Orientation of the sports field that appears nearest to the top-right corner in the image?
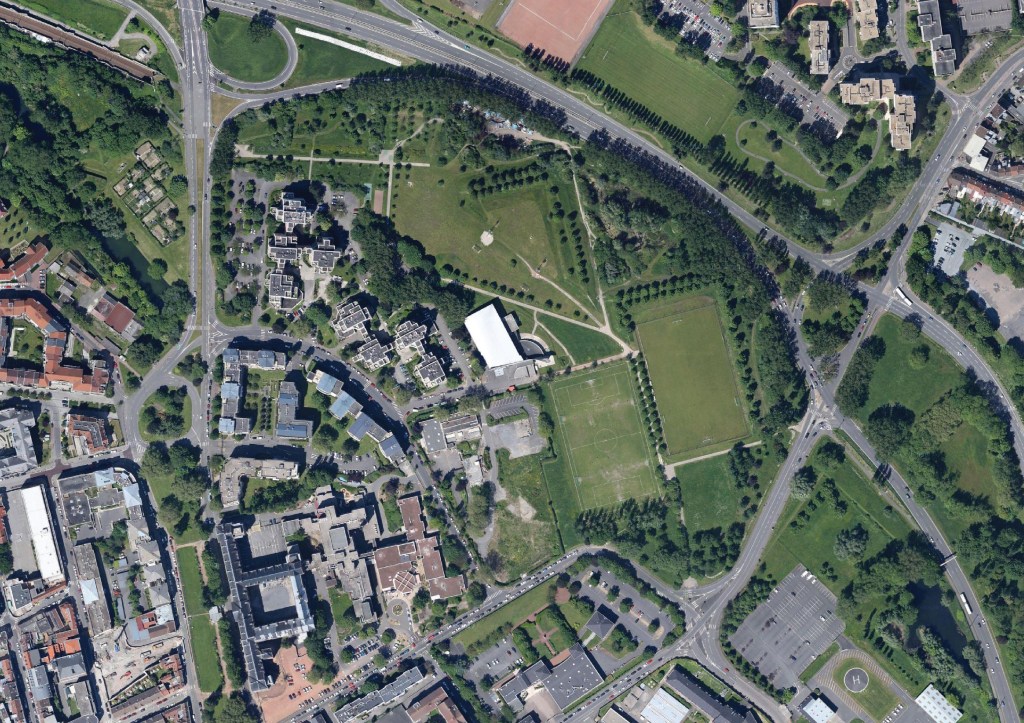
on a diagonal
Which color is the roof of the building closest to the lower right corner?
white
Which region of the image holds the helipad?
bottom right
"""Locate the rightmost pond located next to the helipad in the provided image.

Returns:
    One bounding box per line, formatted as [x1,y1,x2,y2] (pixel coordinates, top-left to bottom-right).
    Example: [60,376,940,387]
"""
[905,583,984,686]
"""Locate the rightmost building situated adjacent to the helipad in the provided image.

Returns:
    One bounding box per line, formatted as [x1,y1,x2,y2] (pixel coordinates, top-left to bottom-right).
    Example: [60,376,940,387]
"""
[915,684,963,723]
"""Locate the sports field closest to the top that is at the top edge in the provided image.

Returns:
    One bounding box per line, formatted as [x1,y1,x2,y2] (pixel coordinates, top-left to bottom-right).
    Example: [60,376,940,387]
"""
[497,0,612,65]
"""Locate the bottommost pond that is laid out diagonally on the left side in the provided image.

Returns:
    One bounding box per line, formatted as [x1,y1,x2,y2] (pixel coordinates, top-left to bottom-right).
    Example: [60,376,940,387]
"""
[100,234,173,306]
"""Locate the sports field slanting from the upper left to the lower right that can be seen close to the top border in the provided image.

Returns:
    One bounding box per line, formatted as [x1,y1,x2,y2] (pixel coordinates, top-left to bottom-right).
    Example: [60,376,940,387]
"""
[578,11,738,148]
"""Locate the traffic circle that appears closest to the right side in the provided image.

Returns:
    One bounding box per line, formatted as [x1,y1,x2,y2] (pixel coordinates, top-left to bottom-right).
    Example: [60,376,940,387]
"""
[835,48,863,76]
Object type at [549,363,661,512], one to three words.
soccer field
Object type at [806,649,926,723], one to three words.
helipad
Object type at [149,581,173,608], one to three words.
house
